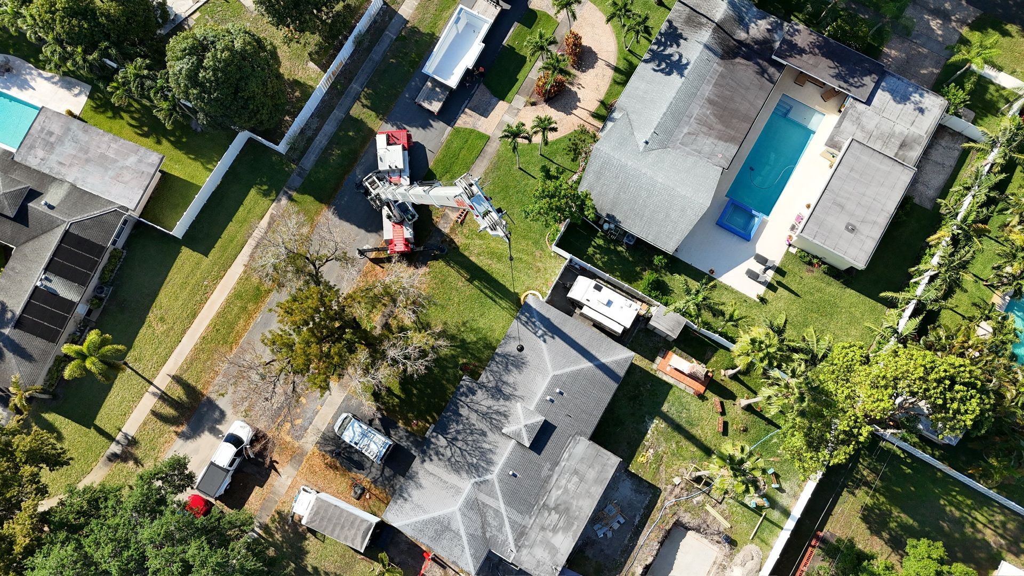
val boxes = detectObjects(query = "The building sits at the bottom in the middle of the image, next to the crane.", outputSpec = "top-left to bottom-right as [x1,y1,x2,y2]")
[381,293,635,576]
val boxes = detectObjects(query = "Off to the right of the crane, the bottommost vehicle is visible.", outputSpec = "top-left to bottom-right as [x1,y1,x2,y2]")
[560,276,640,338]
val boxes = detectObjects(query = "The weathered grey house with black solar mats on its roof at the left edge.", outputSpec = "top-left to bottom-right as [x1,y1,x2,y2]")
[0,106,169,382]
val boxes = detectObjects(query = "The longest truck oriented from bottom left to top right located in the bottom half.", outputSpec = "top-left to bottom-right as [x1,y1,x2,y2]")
[194,420,254,499]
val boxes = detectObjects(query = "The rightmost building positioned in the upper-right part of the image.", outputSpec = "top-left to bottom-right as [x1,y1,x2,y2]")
[772,22,949,270]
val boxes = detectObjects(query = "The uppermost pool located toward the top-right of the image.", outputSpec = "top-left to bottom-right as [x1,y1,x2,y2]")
[726,93,825,216]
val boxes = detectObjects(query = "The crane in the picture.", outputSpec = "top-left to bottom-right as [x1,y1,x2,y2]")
[355,130,523,343]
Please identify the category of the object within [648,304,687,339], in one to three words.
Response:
shed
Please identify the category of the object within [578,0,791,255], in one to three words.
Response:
house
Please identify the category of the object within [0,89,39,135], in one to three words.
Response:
swimming pool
